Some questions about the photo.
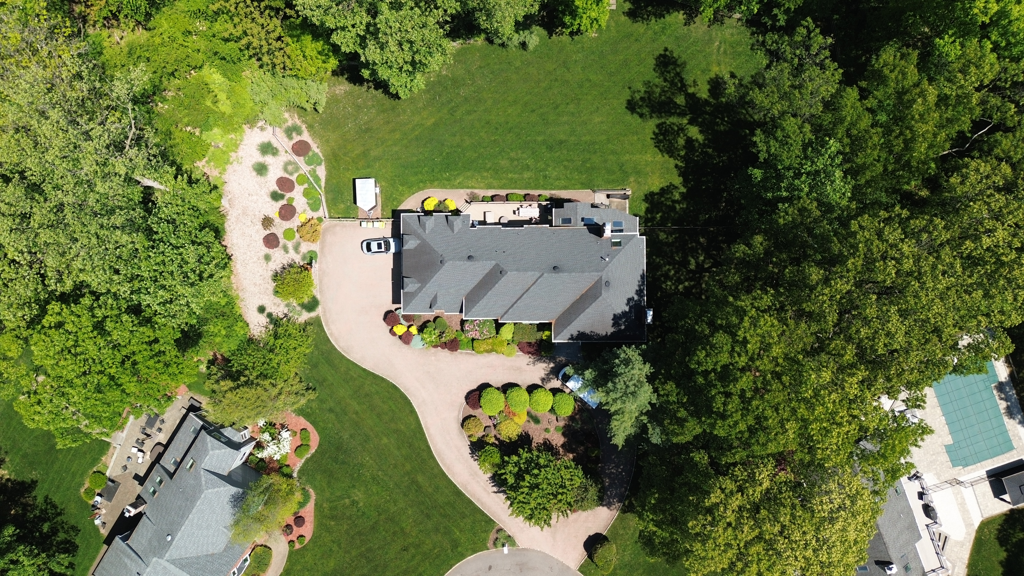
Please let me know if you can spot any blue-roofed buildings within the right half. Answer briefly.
No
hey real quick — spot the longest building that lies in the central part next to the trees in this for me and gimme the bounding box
[401,202,653,347]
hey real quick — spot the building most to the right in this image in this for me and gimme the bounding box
[988,470,1024,507]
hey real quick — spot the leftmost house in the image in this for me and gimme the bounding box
[94,410,262,576]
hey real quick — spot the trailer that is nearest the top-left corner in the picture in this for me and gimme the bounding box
[355,178,380,218]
